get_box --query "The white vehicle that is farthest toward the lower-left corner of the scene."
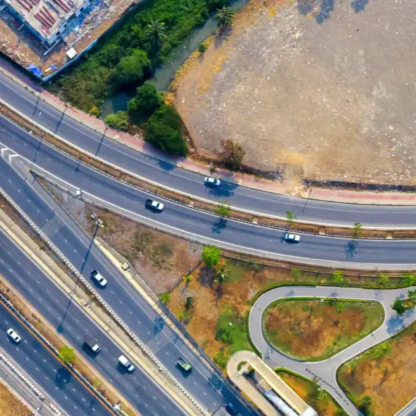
[6,329,21,343]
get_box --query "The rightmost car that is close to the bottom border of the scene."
[223,401,239,415]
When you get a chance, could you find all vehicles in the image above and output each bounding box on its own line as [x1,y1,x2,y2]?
[284,234,301,241]
[6,329,21,343]
[204,177,221,186]
[223,401,239,415]
[117,356,134,371]
[83,339,99,356]
[90,269,106,286]
[145,200,163,209]
[174,355,193,373]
